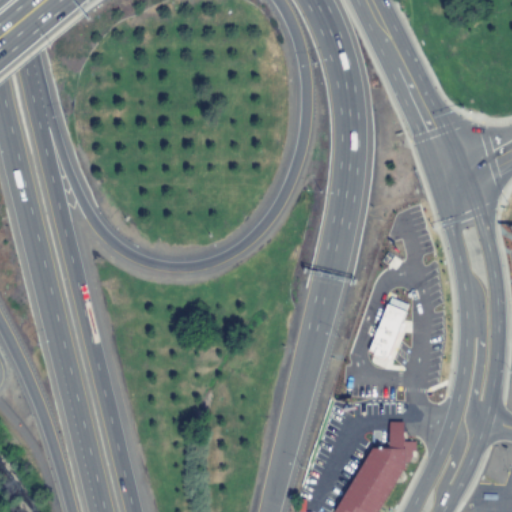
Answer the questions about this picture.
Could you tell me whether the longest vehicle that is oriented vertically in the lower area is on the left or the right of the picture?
left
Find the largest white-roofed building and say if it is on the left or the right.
right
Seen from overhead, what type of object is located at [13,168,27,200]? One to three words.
vehicle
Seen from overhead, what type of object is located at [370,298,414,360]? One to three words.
building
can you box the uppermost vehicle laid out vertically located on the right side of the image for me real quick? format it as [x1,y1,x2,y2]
[334,36,350,70]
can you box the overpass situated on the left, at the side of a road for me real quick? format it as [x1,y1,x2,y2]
[0,0,108,84]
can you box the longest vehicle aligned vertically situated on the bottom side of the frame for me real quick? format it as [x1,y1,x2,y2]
[82,285,101,342]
